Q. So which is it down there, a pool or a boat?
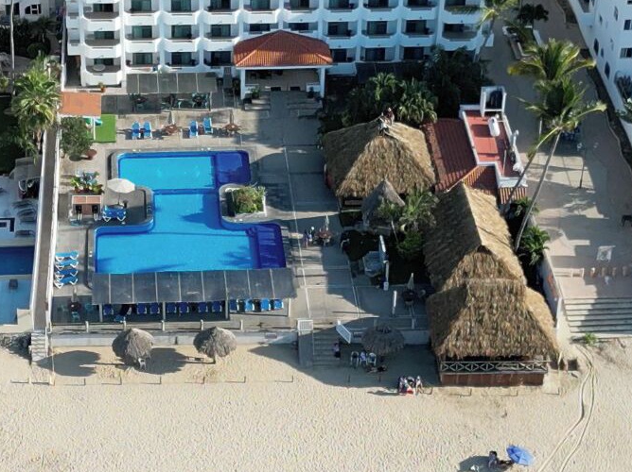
pool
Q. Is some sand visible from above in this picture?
Yes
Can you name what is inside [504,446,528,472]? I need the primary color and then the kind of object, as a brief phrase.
blue umbrella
